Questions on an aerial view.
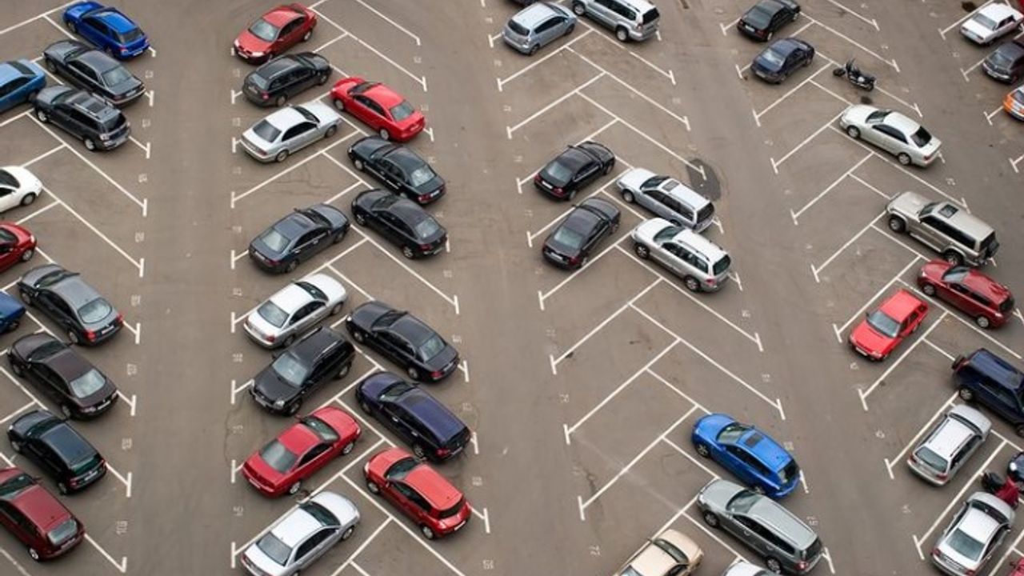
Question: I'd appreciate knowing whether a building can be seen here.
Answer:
No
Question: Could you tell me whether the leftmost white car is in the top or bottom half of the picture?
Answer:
top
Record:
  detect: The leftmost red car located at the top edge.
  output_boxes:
[235,4,321,61]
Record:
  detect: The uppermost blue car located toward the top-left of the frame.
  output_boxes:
[63,2,150,61]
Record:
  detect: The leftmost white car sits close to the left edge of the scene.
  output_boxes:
[0,168,40,216]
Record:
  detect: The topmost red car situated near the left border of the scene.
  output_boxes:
[0,221,39,271]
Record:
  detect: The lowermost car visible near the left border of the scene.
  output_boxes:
[0,470,85,571]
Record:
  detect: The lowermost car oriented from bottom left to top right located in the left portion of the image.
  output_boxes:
[238,489,364,576]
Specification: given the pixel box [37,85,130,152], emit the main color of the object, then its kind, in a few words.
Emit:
gray car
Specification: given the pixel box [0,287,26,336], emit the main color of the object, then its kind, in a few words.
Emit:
blue car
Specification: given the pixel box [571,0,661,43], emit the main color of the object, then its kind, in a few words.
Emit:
gray car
